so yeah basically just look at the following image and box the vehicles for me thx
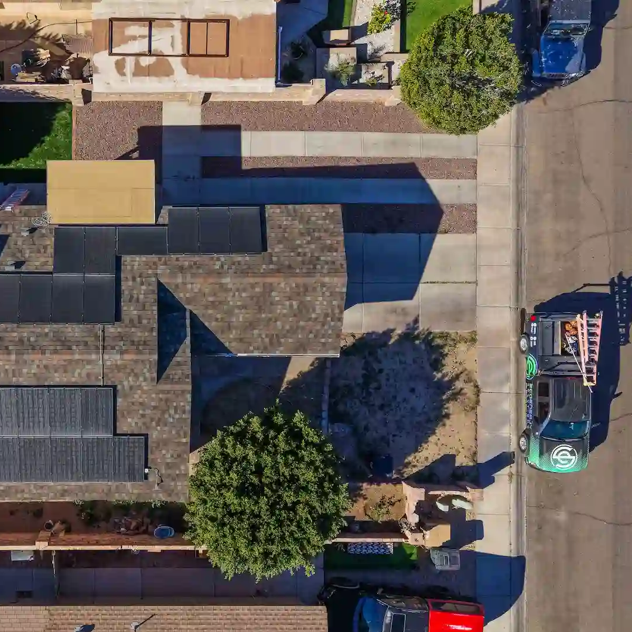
[314,582,484,632]
[517,312,596,471]
[521,0,591,82]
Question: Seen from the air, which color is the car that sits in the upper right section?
blue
